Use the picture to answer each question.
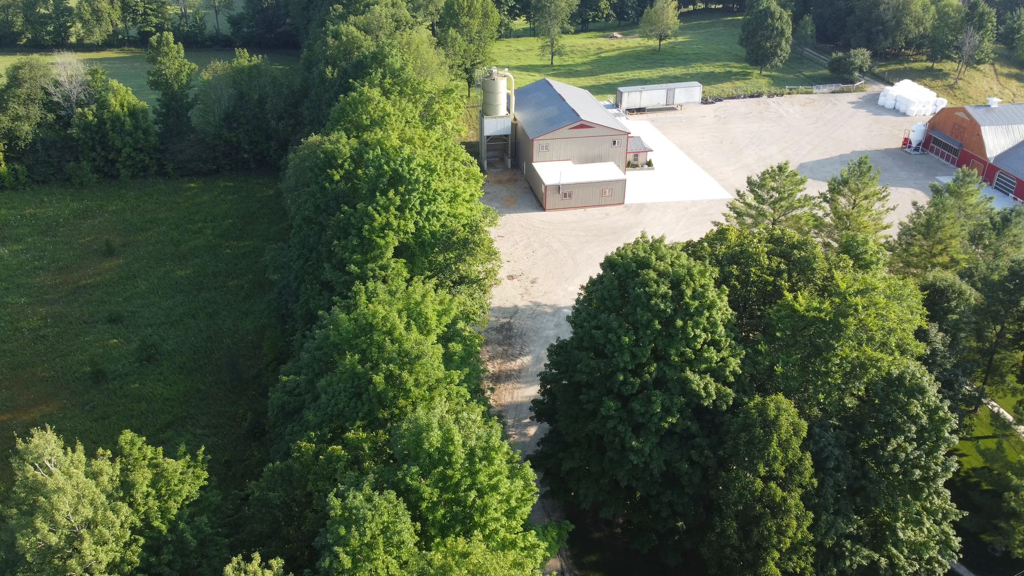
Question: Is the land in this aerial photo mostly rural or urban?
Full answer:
The area is rural.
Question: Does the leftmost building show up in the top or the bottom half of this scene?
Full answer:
It is in the top half that the leftmost building appears.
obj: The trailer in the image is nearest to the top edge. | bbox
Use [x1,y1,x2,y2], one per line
[618,80,704,112]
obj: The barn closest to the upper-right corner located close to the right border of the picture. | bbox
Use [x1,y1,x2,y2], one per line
[918,93,1024,204]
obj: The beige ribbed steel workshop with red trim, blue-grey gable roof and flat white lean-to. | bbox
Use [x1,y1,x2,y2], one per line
[507,77,655,211]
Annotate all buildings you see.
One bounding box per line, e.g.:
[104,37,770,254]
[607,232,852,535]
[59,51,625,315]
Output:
[507,77,655,211]
[918,93,1024,204]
